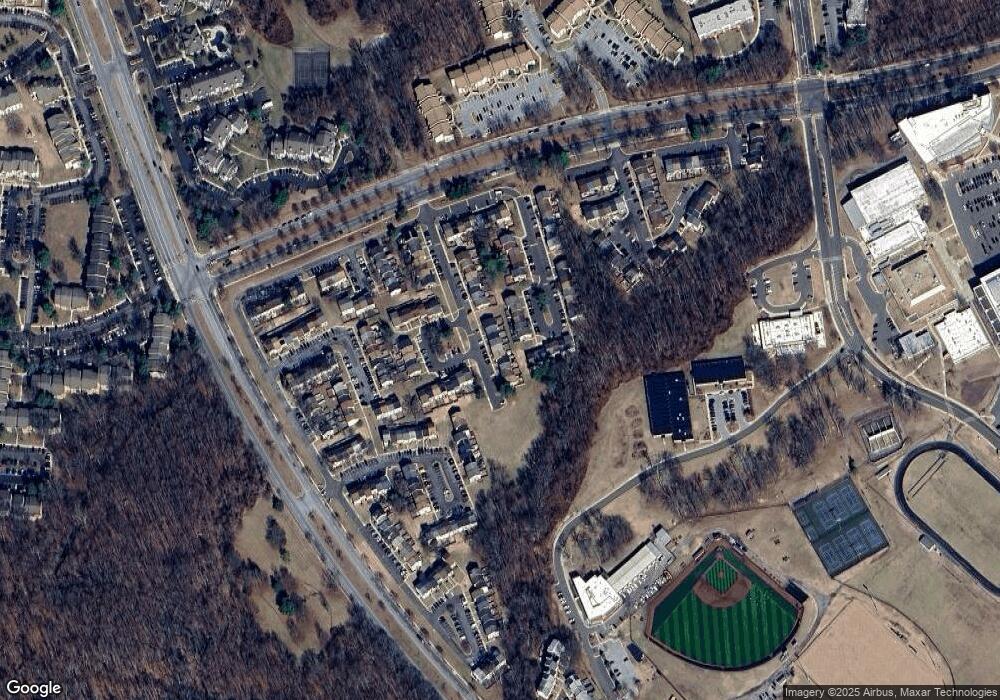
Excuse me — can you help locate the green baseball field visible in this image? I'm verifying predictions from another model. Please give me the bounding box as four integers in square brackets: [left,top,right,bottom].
[645,535,802,671]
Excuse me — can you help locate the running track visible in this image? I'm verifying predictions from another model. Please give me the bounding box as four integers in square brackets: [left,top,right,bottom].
[895,440,1000,594]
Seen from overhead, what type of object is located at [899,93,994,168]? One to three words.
building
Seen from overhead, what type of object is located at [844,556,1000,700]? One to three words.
sports field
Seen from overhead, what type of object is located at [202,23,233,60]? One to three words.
swimming pool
